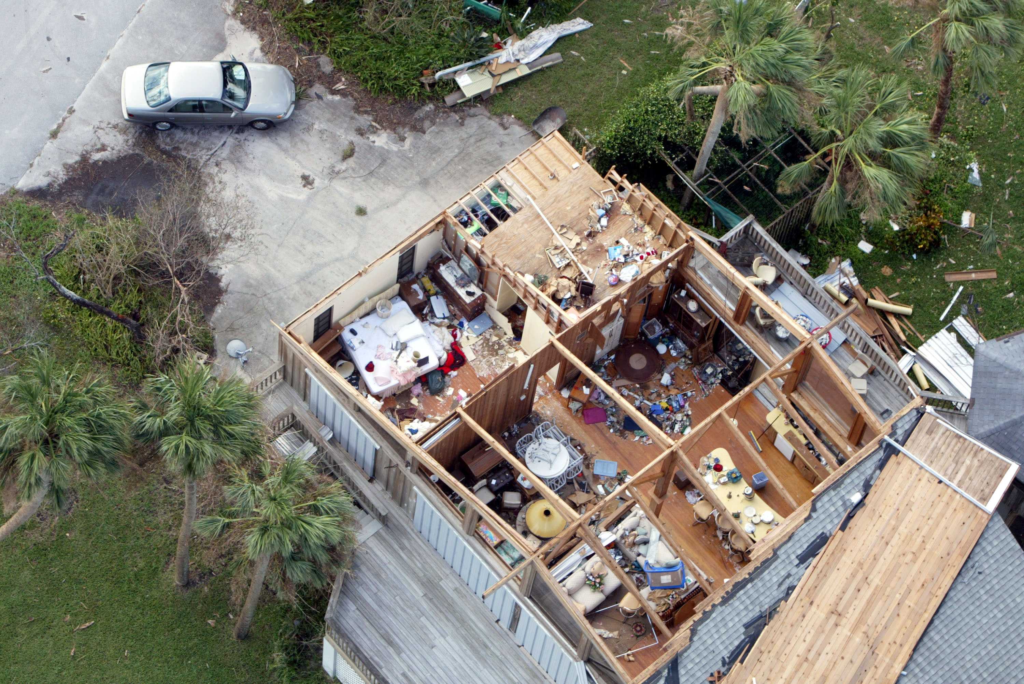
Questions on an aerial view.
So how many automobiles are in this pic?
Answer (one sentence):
The picture shows 1 automobile.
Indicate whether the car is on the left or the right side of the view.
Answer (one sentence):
It is on the left.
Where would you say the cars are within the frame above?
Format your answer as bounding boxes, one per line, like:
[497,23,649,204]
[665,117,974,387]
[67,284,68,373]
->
[124,55,299,133]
